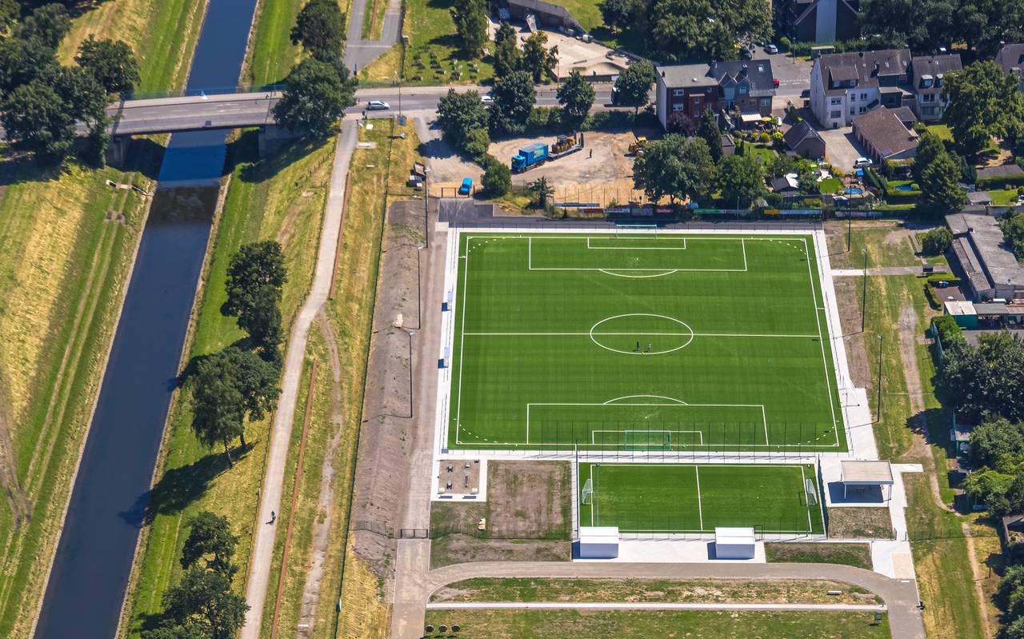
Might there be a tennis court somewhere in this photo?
No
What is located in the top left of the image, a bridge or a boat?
bridge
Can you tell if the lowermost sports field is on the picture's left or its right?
right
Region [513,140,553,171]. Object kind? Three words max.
truck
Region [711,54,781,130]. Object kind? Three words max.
house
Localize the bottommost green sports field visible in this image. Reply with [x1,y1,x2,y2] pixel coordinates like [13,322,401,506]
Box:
[579,463,825,535]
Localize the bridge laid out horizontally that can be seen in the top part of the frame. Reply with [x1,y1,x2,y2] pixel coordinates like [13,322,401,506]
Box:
[72,82,295,164]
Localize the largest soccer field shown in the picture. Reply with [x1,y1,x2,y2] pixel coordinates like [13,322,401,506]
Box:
[448,232,848,450]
